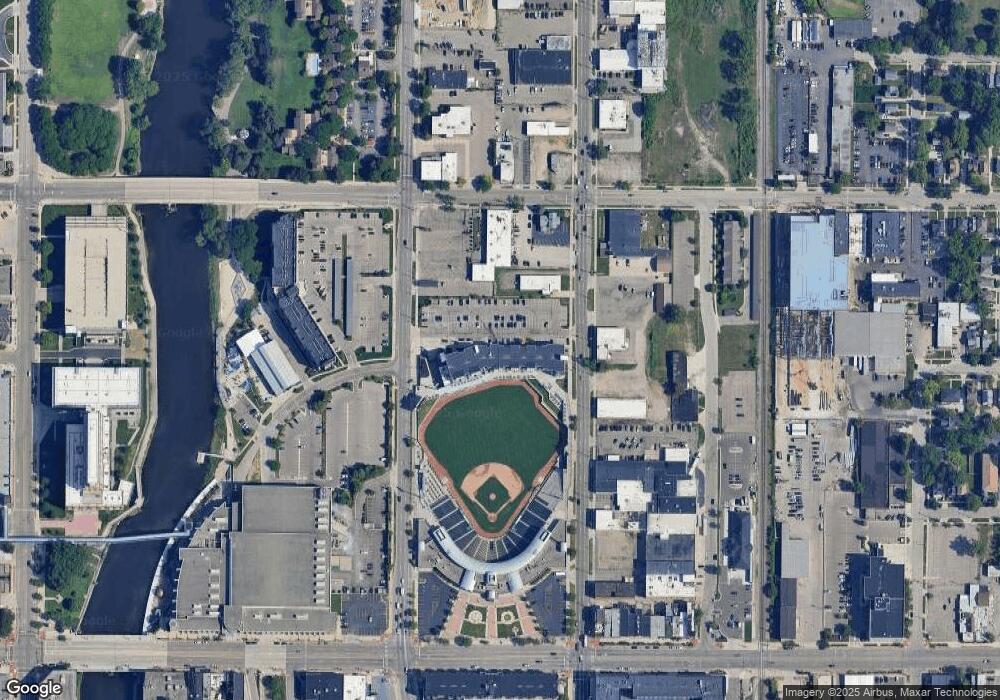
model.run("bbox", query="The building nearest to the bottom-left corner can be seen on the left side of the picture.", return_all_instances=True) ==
[36,671,76,700]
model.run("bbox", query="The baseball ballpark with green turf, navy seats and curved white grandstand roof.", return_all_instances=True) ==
[415,368,569,598]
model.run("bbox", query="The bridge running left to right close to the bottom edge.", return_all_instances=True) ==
[45,633,166,673]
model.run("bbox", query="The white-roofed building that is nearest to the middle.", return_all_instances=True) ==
[521,275,561,294]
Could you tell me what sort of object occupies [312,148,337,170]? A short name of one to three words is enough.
house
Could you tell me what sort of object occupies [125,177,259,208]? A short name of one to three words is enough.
bridge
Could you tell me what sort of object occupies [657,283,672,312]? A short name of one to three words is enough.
shed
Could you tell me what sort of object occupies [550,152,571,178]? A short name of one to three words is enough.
building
